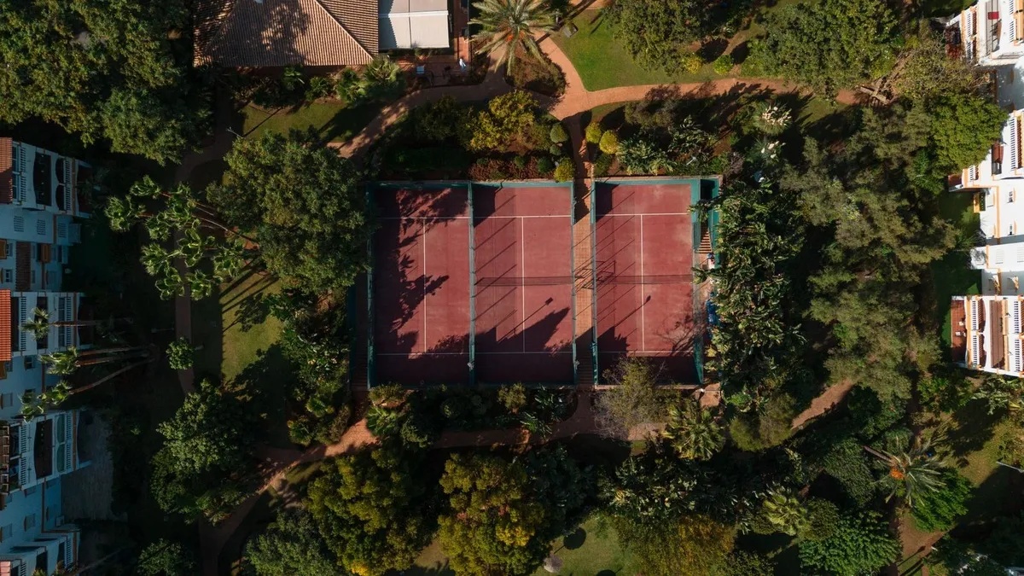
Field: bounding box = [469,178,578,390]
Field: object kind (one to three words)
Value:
sports court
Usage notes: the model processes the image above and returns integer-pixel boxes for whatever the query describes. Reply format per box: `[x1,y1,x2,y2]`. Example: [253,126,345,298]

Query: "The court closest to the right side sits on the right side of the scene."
[593,178,704,390]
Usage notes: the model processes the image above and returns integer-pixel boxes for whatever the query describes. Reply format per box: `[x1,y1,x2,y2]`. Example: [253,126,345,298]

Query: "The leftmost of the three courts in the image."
[364,178,471,390]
